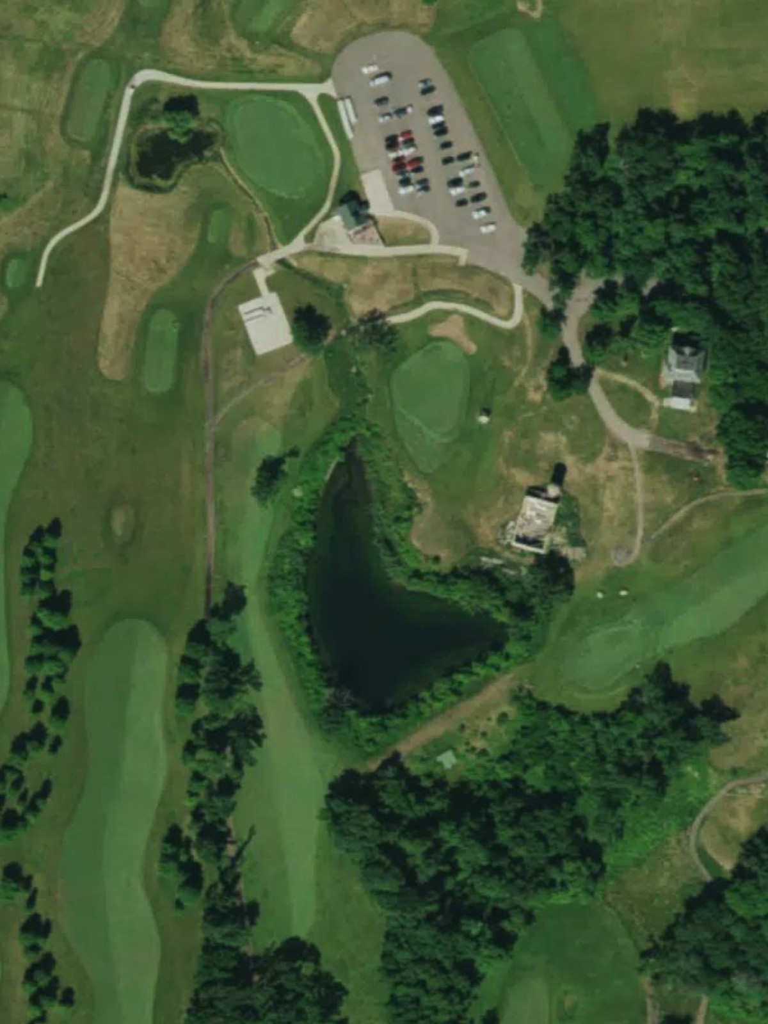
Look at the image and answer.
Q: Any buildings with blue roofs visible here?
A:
No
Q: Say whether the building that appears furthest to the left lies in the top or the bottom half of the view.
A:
top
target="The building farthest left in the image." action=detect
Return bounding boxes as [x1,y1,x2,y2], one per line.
[339,198,370,234]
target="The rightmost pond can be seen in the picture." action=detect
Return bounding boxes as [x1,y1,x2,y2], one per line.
[307,436,509,711]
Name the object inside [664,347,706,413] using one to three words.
house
